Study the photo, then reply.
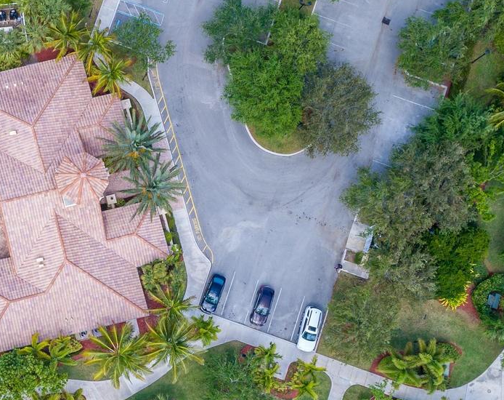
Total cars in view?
three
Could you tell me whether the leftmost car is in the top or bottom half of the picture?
bottom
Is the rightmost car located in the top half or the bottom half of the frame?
bottom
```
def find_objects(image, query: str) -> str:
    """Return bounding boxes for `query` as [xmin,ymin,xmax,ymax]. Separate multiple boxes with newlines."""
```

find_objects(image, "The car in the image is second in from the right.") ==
[247,283,276,327]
